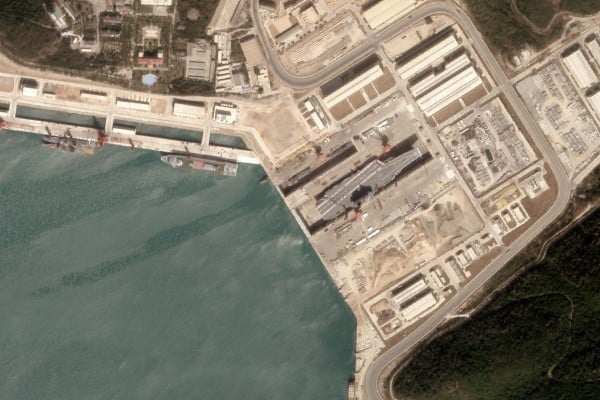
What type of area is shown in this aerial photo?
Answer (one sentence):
This looks like a port.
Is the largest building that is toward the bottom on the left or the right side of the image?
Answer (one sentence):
You can find the largest building that is toward the bottom on the right side of the picture.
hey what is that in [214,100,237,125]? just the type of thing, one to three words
building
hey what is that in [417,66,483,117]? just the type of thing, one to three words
building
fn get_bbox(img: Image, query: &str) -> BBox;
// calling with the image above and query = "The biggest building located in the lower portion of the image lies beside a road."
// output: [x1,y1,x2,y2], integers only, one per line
[400,291,438,320]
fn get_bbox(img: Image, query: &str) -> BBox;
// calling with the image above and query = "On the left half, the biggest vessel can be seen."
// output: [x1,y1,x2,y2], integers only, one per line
[161,155,238,175]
